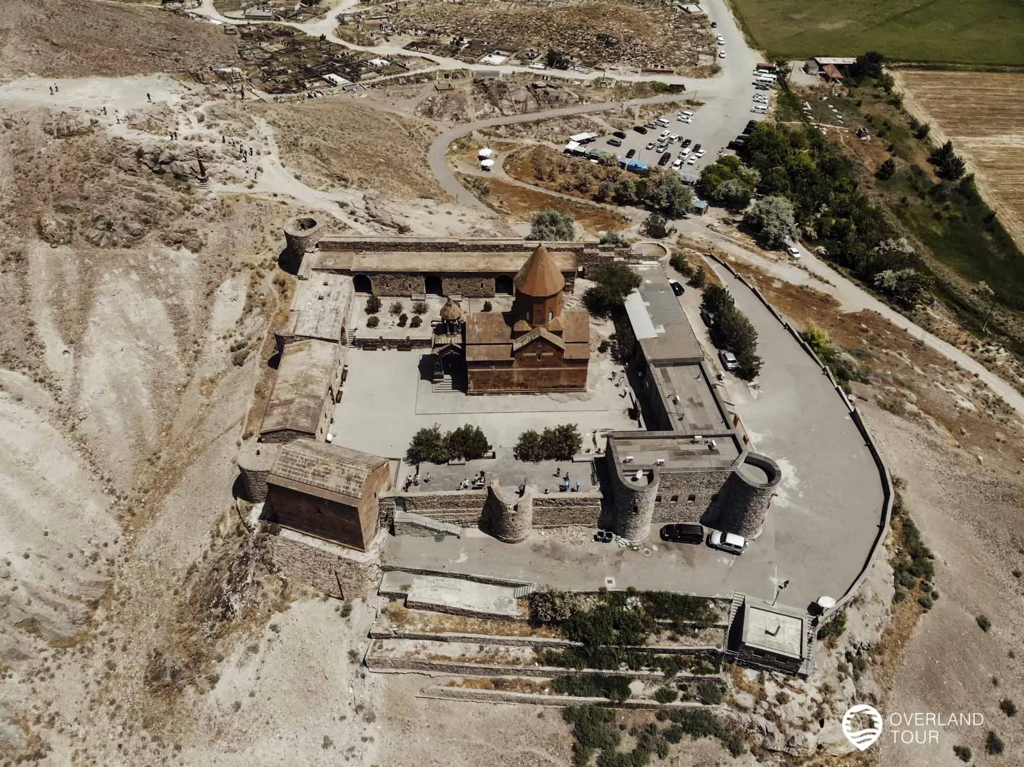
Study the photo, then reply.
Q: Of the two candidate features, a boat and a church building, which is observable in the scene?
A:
church building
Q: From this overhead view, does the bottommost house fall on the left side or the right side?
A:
right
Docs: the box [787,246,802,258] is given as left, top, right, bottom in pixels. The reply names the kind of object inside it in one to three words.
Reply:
vehicle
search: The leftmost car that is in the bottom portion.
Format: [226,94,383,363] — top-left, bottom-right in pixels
[660,522,704,544]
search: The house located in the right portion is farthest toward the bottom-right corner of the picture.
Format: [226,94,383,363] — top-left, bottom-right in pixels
[718,596,818,696]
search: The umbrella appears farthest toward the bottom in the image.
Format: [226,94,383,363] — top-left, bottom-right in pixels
[816,595,836,612]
